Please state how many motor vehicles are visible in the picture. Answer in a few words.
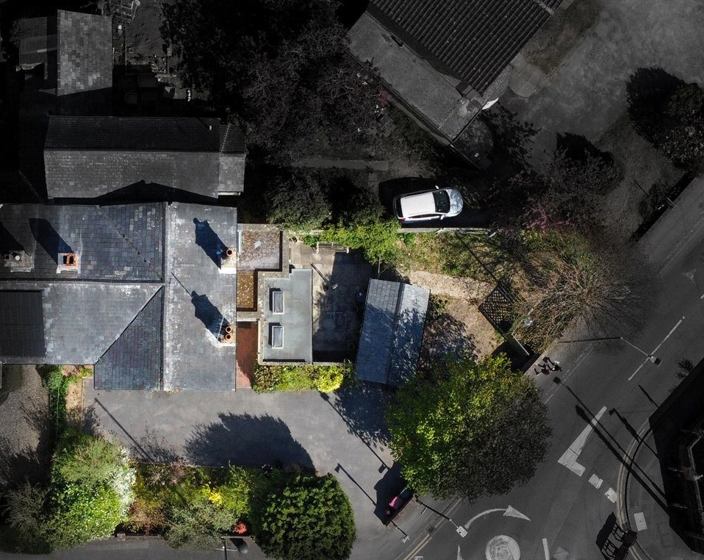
2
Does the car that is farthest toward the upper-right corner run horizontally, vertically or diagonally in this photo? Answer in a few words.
horizontally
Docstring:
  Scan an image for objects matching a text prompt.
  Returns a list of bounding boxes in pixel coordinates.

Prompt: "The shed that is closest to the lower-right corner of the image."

[354,281,430,388]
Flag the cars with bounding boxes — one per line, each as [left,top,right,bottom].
[388,189,462,228]
[378,477,428,526]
